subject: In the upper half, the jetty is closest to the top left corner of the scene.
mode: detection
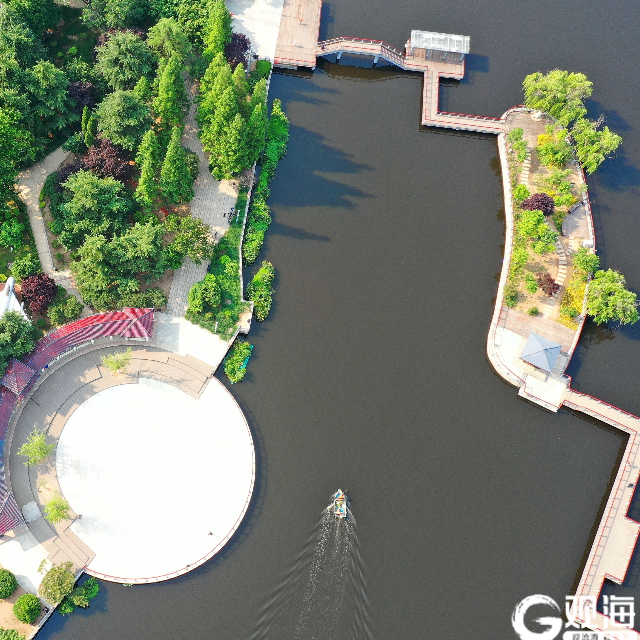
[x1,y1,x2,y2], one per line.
[274,0,322,71]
